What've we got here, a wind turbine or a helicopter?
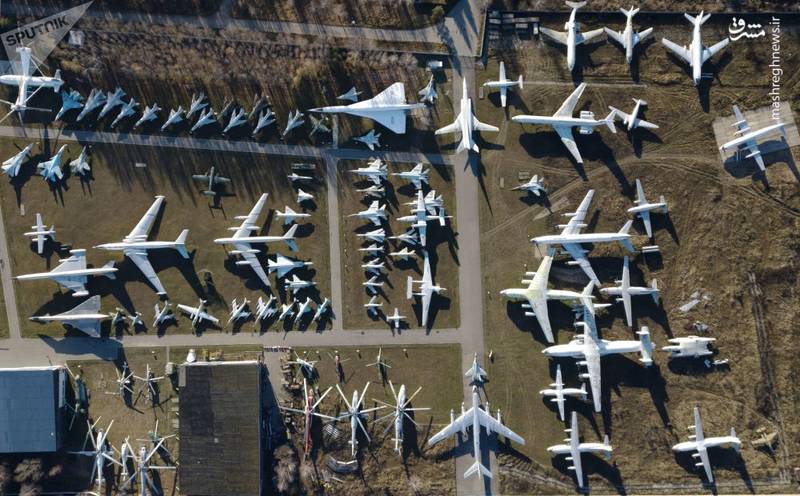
helicopter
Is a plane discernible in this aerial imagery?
Yes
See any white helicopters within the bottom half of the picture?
Yes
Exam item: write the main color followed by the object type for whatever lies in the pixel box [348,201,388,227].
white airplane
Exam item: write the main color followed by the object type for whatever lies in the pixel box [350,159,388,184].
white airplane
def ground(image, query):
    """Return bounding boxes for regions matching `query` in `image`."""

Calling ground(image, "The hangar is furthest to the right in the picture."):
[179,360,263,496]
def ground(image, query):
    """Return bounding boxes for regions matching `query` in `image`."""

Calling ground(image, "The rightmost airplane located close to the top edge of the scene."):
[666,11,733,85]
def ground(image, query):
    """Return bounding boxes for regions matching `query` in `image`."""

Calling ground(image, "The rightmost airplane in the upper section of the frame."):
[722,104,790,171]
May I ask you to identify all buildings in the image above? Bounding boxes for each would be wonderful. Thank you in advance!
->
[70,31,86,48]
[0,366,66,453]
[179,360,263,496]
